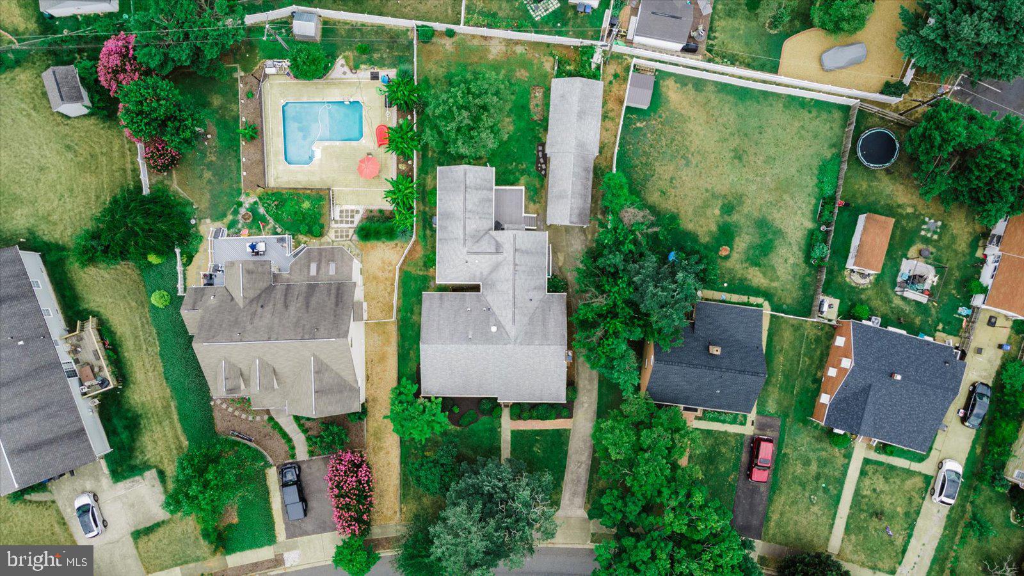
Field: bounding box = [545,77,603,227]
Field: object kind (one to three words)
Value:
building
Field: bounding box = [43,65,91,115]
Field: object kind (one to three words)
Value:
shed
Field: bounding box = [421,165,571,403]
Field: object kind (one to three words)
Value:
house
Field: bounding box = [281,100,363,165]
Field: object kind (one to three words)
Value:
swimming pool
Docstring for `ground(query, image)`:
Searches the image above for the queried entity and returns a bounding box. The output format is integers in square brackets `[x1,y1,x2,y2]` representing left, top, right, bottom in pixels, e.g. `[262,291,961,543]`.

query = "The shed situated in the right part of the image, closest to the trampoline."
[842,213,894,273]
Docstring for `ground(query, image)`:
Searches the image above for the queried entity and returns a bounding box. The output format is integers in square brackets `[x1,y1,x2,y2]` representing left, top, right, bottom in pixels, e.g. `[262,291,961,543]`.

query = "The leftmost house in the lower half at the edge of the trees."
[0,246,110,497]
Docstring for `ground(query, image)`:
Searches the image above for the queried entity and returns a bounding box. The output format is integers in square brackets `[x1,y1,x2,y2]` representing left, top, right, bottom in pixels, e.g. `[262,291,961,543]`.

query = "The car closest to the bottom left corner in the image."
[75,489,109,539]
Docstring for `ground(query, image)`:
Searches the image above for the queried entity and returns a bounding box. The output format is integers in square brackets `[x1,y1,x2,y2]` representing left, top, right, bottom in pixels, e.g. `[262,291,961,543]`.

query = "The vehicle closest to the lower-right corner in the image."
[925,456,961,507]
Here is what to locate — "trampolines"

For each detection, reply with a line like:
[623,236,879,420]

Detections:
[853,127,898,169]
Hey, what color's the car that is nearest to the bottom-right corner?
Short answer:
white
